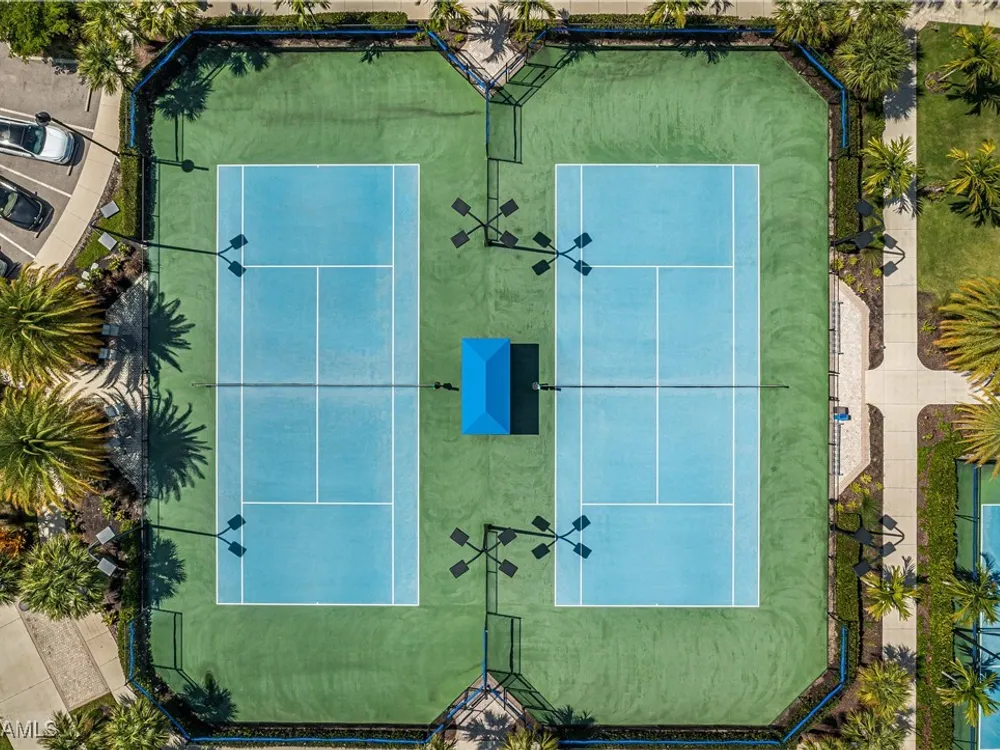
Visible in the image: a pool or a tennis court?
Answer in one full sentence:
Of the two, only a tennis court appears.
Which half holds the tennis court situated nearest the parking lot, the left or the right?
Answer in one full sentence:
The tennis court situated nearest the parking lot is on the left side of the image.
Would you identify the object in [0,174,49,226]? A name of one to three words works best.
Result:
car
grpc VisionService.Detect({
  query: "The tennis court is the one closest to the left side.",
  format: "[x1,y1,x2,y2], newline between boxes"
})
[148,47,487,724]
